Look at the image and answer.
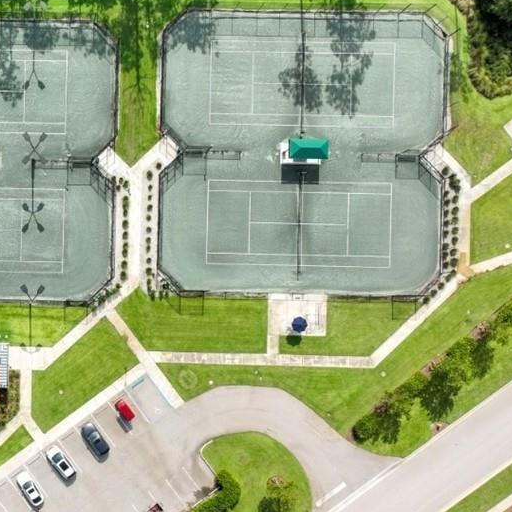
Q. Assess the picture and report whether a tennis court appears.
Yes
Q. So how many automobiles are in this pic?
three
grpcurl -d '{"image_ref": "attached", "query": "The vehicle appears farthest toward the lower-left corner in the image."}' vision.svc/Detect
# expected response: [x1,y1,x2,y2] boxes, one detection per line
[16,469,47,509]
